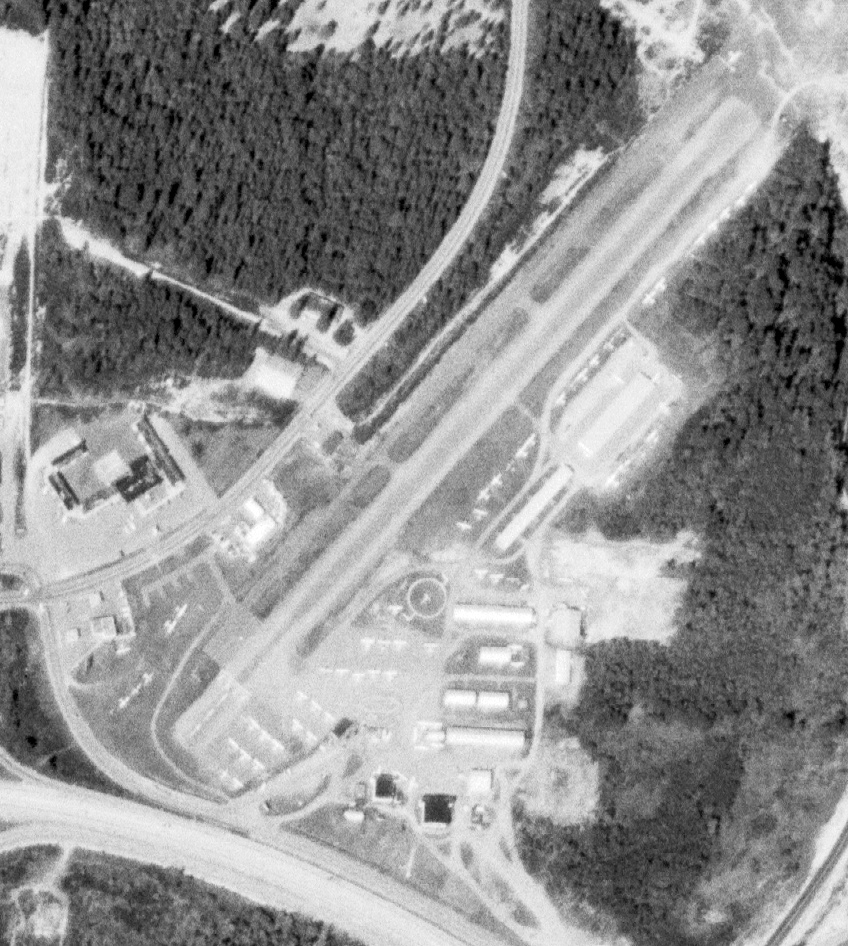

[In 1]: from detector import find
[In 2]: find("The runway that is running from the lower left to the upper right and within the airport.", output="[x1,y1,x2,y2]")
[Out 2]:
[171,100,749,746]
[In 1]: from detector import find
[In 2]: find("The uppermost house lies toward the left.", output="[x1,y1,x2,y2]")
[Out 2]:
[286,294,335,333]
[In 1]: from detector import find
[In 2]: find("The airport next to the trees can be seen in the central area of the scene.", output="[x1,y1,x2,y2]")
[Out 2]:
[150,75,778,946]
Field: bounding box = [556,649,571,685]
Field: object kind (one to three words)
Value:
building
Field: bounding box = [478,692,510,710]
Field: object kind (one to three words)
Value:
hangar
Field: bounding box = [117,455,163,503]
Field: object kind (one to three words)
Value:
building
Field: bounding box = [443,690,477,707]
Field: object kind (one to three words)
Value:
hangar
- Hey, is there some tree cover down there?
Yes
